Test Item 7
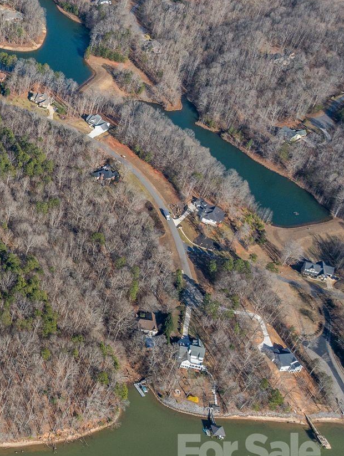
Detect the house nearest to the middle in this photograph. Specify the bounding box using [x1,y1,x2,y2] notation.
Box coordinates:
[174,188,224,229]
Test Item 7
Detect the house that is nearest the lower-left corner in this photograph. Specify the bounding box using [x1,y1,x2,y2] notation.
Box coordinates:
[135,311,158,340]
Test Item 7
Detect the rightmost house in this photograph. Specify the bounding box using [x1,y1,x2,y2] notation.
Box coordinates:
[297,256,330,286]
